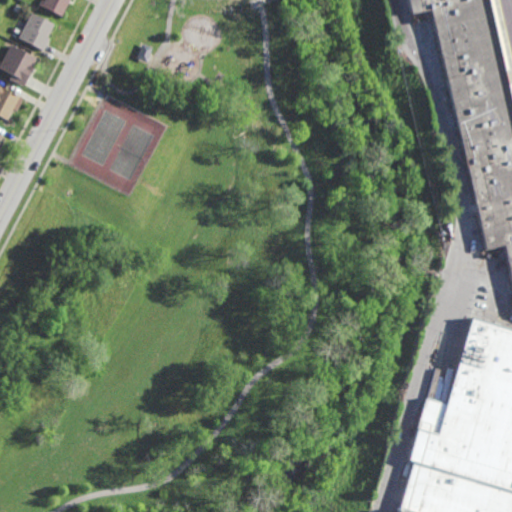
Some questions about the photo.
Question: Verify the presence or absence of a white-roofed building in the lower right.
Yes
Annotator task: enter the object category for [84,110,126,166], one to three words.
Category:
tennis court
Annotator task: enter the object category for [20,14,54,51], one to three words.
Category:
house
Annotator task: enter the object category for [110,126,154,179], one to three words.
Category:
tennis court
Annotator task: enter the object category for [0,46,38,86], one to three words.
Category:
house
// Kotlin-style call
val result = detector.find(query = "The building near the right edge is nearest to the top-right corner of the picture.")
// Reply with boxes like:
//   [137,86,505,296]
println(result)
[406,0,512,296]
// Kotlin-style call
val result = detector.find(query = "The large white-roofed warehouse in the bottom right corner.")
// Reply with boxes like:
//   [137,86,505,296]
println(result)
[396,318,512,512]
